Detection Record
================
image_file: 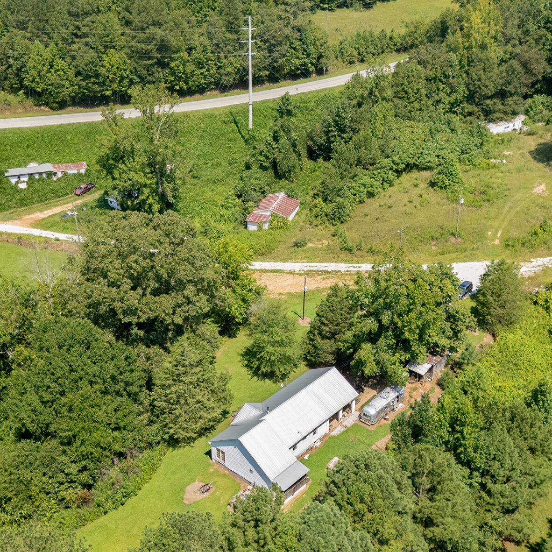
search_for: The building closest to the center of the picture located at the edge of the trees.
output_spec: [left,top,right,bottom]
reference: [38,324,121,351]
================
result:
[245,193,300,231]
